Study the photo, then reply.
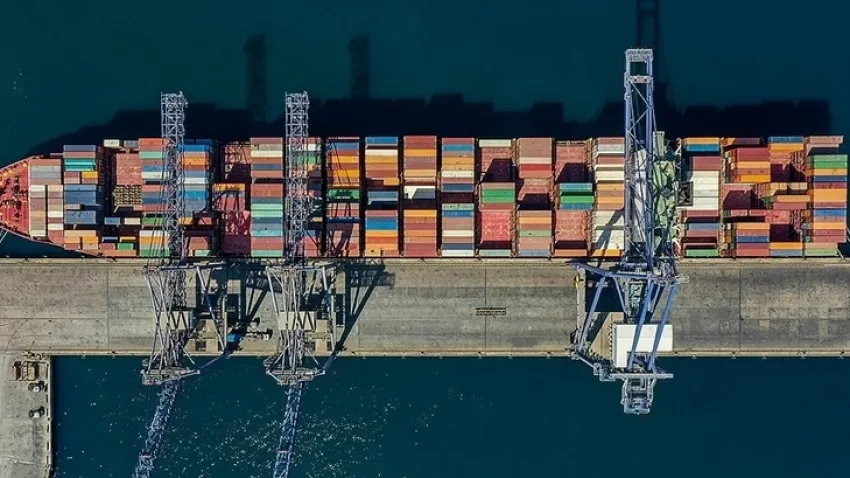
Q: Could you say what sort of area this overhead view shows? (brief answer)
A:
port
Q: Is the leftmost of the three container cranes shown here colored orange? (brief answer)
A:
No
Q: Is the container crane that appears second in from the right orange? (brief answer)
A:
No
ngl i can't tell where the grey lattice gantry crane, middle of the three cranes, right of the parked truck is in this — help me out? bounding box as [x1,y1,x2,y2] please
[265,89,347,478]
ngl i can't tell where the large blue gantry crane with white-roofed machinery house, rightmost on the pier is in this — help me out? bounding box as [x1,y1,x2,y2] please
[554,44,689,417]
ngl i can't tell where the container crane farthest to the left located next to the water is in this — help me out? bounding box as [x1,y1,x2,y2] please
[129,89,240,478]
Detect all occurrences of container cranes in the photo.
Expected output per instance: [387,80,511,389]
[129,89,240,478]
[265,89,347,478]
[554,44,689,417]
